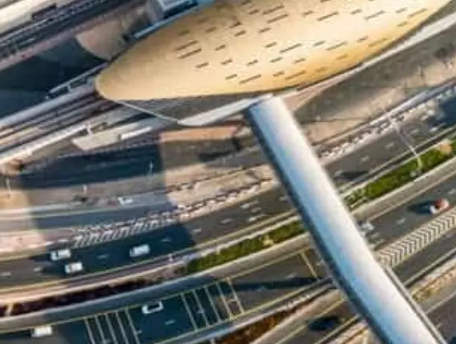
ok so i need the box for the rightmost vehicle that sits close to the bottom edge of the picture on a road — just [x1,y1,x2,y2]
[317,313,341,331]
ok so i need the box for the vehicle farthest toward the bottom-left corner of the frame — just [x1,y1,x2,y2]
[28,323,55,339]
